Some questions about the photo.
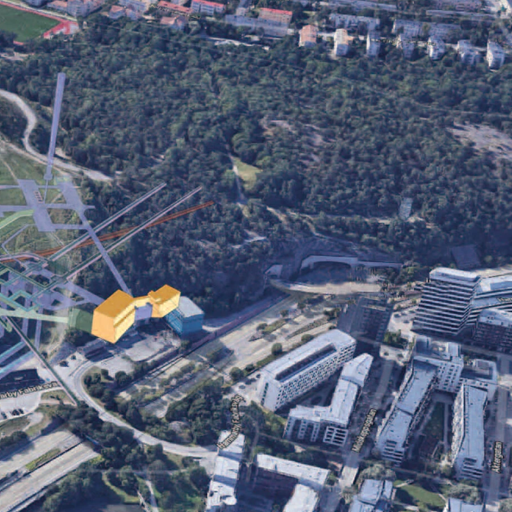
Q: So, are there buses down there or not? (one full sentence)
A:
No, no bus can be seen from above.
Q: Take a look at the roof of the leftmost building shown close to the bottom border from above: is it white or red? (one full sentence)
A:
The color of the roof of the leftmost building shown close to the bottom border is white.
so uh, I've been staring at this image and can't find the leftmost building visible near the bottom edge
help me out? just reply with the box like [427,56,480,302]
[206,432,245,512]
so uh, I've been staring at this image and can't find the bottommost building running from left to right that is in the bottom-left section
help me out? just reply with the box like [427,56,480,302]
[0,368,43,391]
